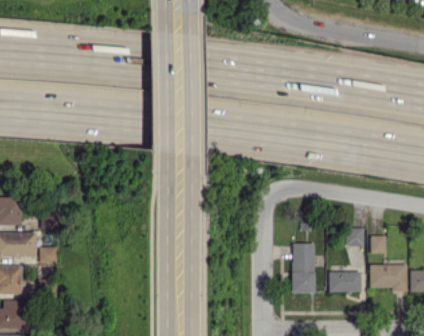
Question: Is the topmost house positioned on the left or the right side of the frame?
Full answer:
It is on the left.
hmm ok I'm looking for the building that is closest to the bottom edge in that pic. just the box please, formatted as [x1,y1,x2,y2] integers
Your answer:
[0,300,26,328]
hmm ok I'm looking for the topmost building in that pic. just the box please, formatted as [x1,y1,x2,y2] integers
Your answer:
[0,196,22,224]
